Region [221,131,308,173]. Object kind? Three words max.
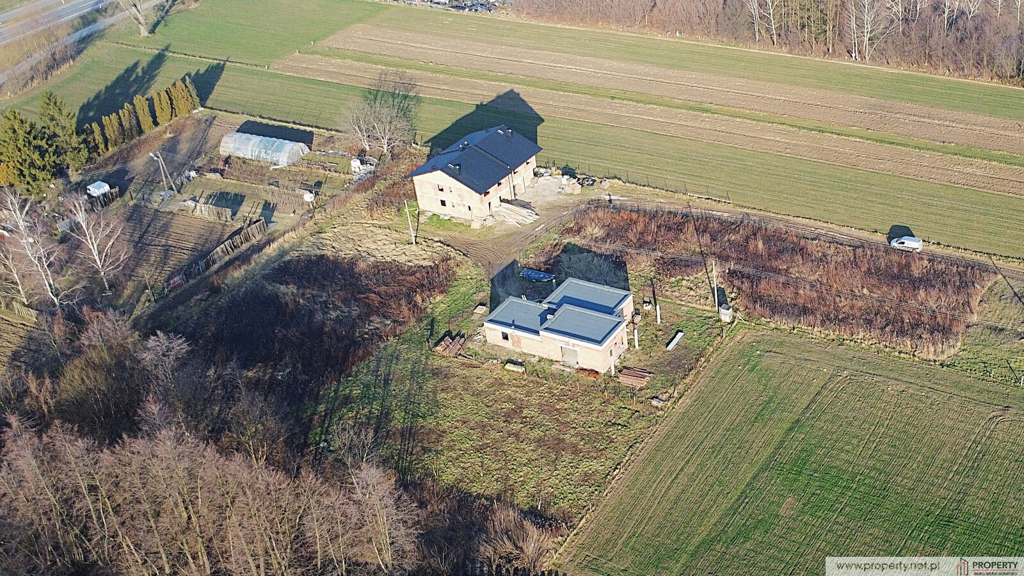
greenhouse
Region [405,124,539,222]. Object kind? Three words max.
house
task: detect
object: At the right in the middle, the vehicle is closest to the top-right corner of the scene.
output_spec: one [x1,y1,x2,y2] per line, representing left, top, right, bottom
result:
[890,234,924,251]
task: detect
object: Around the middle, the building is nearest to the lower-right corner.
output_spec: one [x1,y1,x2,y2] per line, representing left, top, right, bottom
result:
[483,277,638,375]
